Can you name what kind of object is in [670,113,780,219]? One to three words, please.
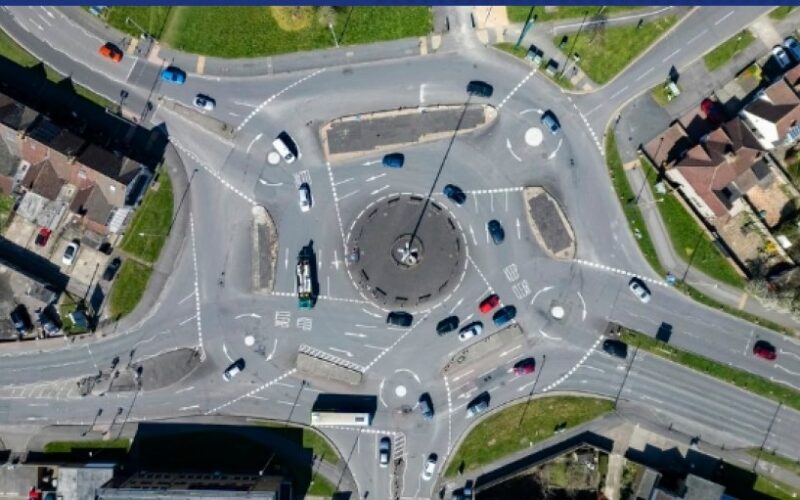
house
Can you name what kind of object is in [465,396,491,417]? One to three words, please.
car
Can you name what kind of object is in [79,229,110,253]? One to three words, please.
shed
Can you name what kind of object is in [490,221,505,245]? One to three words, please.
car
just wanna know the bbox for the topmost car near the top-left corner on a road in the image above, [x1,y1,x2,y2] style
[97,42,122,61]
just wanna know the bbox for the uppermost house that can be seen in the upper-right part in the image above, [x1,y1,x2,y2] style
[743,53,800,148]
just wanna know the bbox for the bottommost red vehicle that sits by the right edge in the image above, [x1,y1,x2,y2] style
[754,345,780,360]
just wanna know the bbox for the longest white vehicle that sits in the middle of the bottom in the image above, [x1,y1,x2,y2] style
[311,408,371,427]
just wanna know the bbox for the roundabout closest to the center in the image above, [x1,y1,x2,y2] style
[345,190,468,312]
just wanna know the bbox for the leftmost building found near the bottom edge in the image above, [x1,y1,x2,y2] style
[52,464,120,500]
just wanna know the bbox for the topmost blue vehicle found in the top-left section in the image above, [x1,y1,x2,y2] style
[160,69,184,84]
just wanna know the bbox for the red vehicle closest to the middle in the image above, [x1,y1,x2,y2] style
[479,295,501,314]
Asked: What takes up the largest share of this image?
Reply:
paved ground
